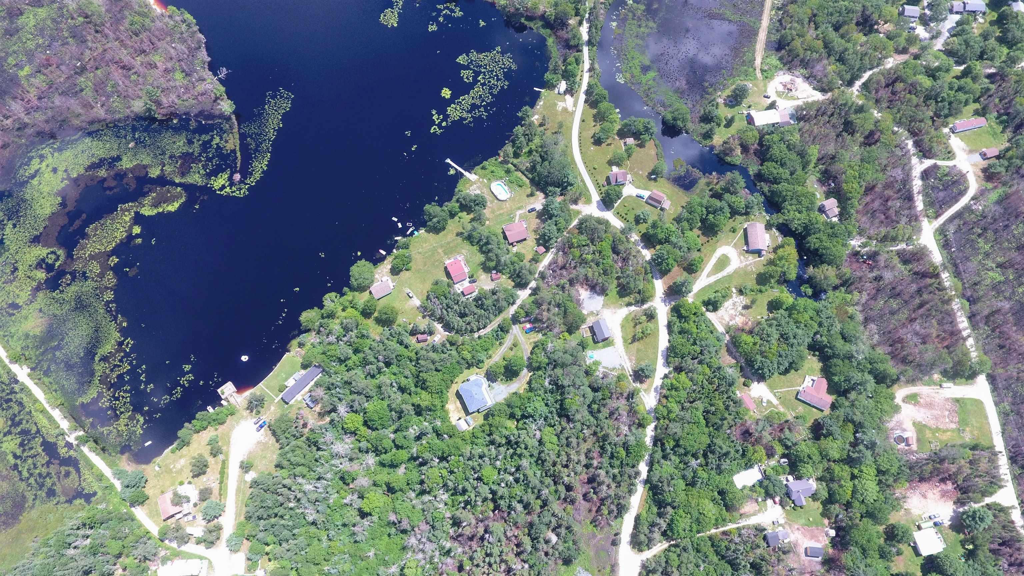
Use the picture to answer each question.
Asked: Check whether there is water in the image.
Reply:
Yes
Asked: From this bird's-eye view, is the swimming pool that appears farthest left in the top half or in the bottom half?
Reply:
top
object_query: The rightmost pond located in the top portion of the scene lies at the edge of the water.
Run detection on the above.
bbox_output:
[597,0,815,304]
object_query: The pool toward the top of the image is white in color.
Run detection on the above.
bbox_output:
[491,179,511,199]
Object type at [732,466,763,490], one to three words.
building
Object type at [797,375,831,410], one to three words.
house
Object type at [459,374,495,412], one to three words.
house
